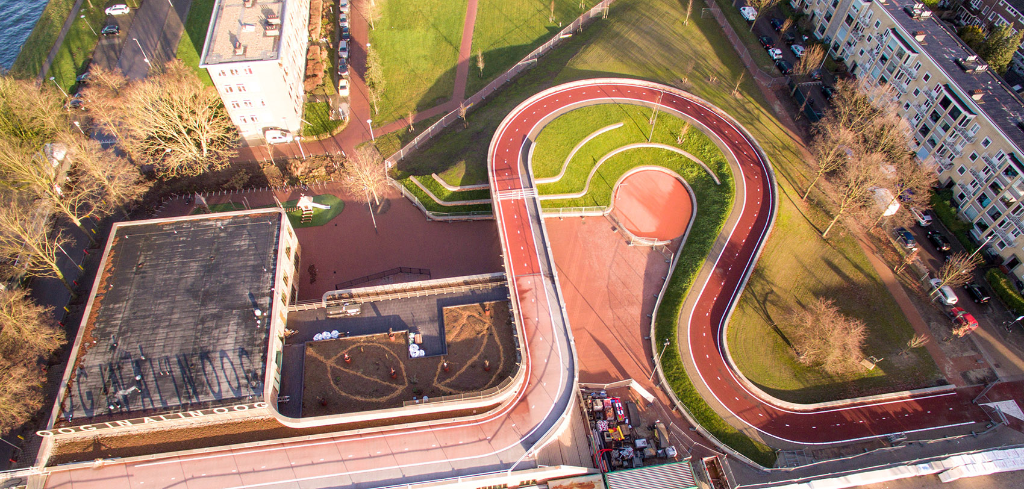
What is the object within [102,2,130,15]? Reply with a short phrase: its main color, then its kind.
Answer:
white vehicle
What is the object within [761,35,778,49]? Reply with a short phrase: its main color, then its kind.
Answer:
black car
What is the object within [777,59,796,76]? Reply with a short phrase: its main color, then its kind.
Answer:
black car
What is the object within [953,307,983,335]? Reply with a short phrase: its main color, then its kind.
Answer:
red car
